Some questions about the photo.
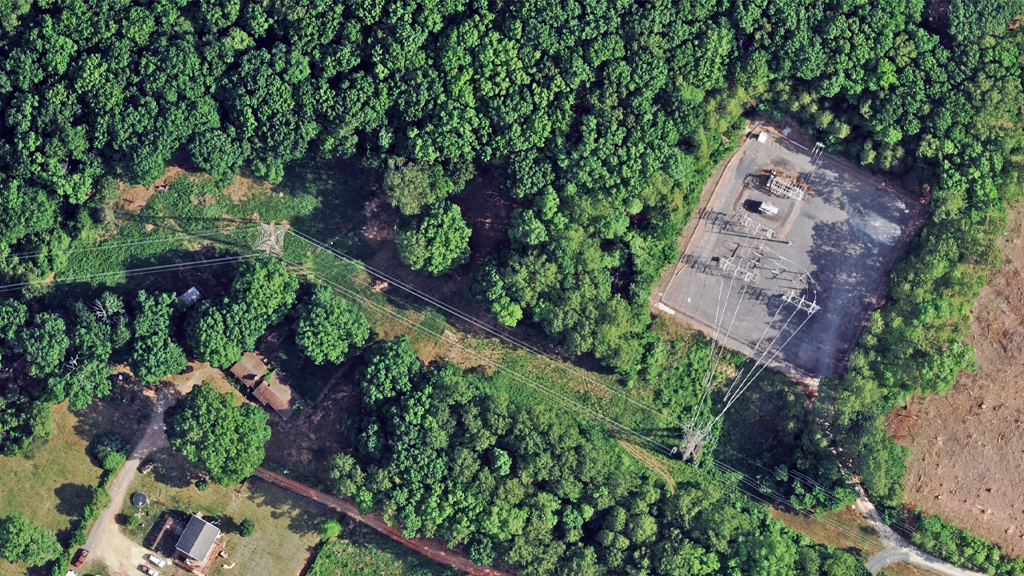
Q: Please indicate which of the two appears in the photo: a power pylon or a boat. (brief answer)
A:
power pylon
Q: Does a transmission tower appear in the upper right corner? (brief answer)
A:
No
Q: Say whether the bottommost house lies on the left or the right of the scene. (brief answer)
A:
left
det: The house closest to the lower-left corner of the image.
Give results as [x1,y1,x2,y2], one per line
[151,516,220,573]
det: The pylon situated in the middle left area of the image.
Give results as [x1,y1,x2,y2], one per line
[251,218,290,258]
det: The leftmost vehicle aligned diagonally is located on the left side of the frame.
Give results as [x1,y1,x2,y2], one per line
[74,549,88,568]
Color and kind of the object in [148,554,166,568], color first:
white car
